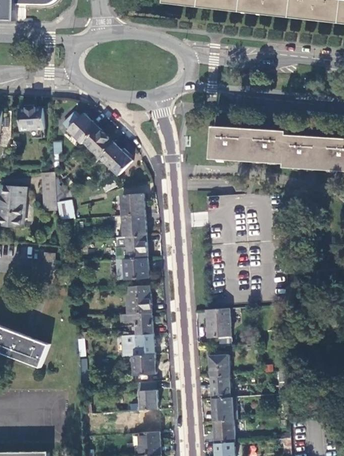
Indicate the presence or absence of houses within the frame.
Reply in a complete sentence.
Yes, there is a house in the image.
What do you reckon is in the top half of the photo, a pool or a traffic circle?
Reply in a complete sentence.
The feature located in the top half of the photo is a traffic circle.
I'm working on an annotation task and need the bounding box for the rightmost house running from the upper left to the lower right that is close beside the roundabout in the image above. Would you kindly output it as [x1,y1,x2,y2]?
[62,105,135,175]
